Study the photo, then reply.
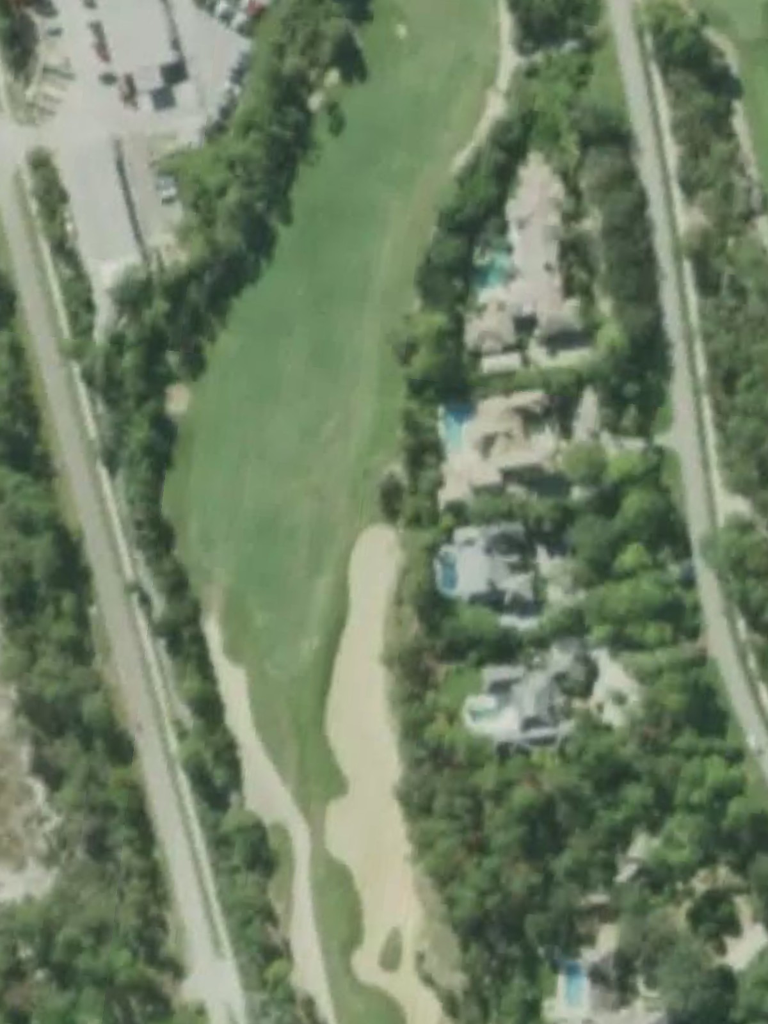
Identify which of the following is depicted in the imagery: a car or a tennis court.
car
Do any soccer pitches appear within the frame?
No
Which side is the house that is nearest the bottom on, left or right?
right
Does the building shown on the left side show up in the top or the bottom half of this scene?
top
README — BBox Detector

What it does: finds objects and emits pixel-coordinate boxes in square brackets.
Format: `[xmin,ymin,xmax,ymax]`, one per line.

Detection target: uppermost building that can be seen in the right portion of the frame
[465,150,586,355]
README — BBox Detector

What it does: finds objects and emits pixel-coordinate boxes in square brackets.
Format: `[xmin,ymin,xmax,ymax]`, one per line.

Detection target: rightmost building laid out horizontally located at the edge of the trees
[583,893,612,907]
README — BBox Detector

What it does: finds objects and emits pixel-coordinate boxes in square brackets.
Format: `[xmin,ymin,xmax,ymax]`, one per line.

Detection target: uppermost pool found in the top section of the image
[473,247,513,288]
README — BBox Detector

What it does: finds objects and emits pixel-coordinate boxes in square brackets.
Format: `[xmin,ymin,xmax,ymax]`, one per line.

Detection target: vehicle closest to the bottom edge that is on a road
[746,727,761,748]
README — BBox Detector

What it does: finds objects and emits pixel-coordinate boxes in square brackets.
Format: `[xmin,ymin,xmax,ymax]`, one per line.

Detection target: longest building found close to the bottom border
[590,923,621,1013]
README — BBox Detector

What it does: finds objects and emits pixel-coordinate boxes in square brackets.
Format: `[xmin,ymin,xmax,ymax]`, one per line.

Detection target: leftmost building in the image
[102,0,174,88]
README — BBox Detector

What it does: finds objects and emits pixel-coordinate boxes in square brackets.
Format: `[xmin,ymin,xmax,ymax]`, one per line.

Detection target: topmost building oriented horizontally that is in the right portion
[481,352,522,373]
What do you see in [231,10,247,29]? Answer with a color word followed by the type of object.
white car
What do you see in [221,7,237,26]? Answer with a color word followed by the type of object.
gray car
